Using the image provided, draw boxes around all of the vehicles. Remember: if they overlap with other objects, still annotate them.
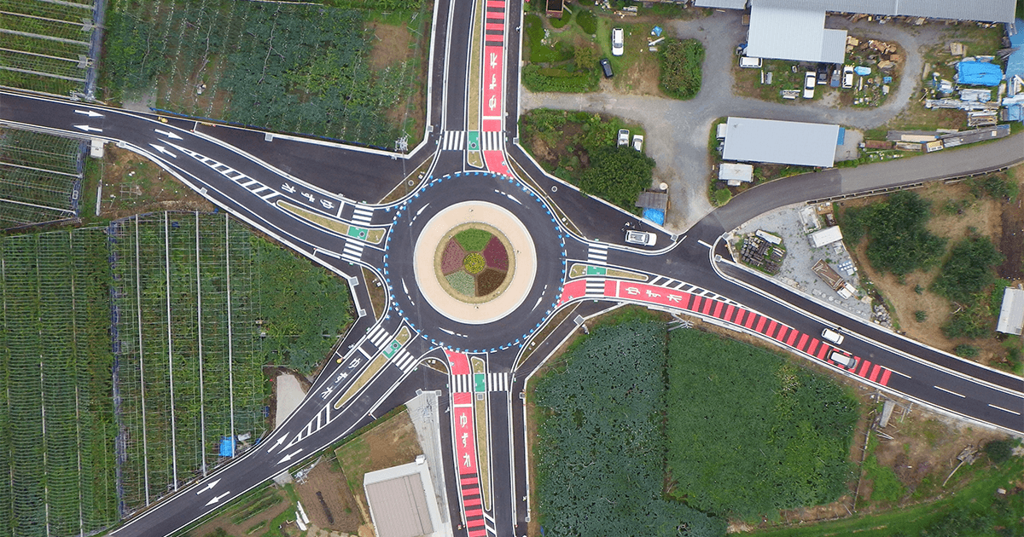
[822,347,856,369]
[838,65,854,91]
[623,231,658,247]
[814,62,829,87]
[826,64,841,91]
[811,258,853,297]
[817,327,843,344]
[617,127,630,151]
[736,58,761,71]
[611,27,625,58]
[800,69,815,100]
[598,57,613,82]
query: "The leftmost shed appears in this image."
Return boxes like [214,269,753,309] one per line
[90,138,108,158]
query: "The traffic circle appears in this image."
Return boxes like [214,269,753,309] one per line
[385,174,564,352]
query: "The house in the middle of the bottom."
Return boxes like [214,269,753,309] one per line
[365,454,446,537]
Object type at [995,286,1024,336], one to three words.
shed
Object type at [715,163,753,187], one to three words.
building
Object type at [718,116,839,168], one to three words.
building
